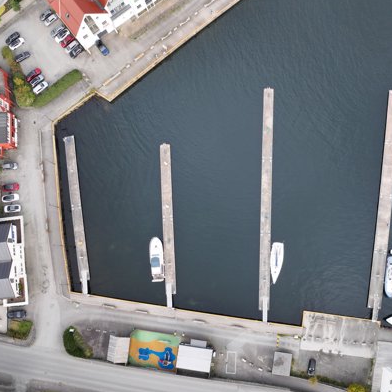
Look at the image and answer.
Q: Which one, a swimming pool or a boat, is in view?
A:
boat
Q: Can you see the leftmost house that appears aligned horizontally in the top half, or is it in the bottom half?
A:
top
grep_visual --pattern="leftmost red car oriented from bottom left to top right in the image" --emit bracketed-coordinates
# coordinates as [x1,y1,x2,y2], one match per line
[26,67,42,81]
